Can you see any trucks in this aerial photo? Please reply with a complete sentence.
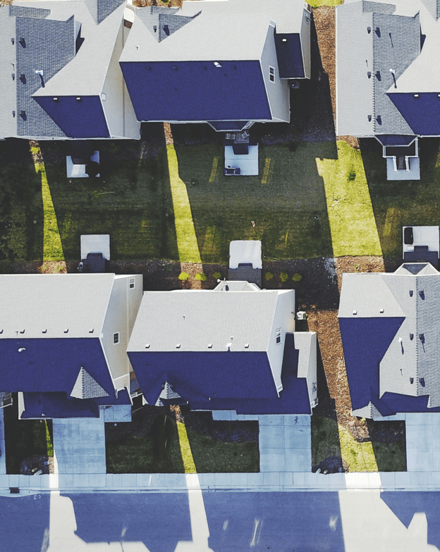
No, I can't see a single truck in this photo.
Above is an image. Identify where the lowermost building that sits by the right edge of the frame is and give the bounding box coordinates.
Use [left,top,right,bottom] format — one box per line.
[338,262,440,422]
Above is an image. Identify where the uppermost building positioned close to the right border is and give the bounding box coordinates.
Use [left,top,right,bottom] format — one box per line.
[336,0,440,147]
